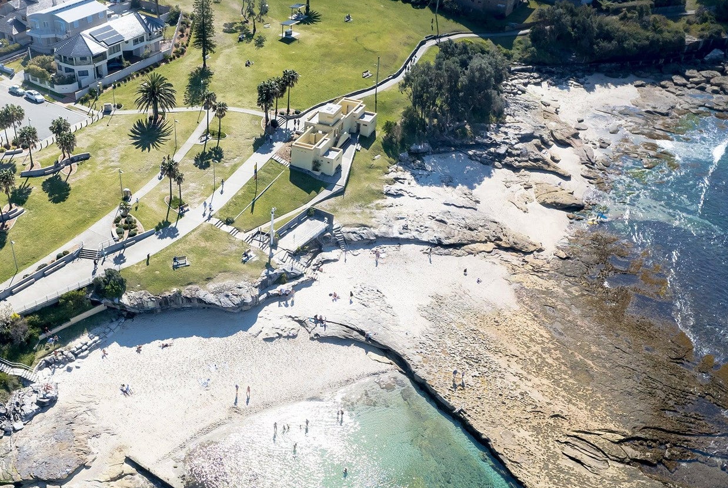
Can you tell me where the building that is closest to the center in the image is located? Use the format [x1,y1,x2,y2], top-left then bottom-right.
[287,98,387,180]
